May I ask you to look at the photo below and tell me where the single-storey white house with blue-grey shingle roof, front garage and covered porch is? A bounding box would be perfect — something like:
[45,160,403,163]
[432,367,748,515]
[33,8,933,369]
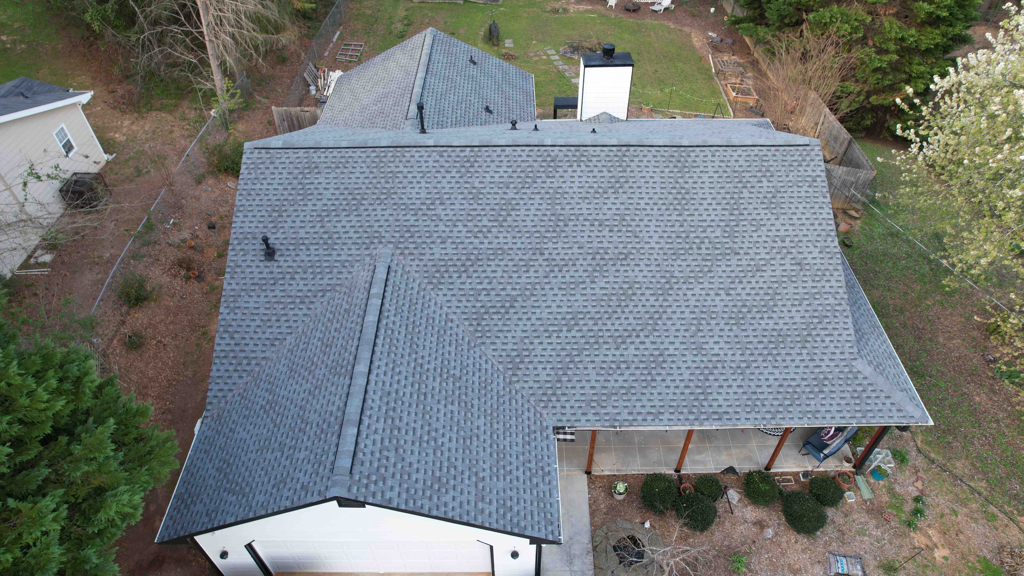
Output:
[154,27,932,576]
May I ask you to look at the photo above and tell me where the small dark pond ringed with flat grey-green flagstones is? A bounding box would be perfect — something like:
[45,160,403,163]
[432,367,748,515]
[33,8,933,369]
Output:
[593,515,667,576]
